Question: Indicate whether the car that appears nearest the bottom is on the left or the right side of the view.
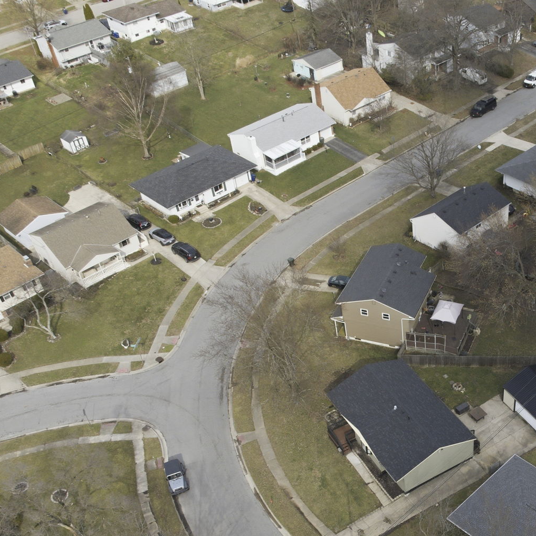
left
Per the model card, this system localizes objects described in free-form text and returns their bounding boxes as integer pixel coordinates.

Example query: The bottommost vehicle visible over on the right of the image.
[326,275,352,289]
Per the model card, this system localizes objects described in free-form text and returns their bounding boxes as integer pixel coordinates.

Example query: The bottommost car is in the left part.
[164,454,190,494]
